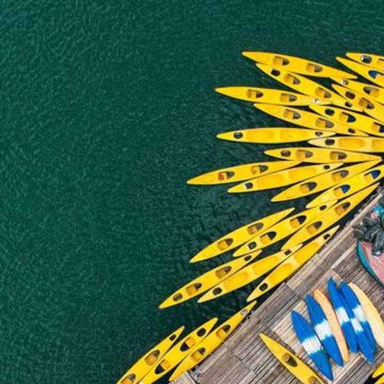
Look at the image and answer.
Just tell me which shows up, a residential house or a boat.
boat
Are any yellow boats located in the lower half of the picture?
Yes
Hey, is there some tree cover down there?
No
